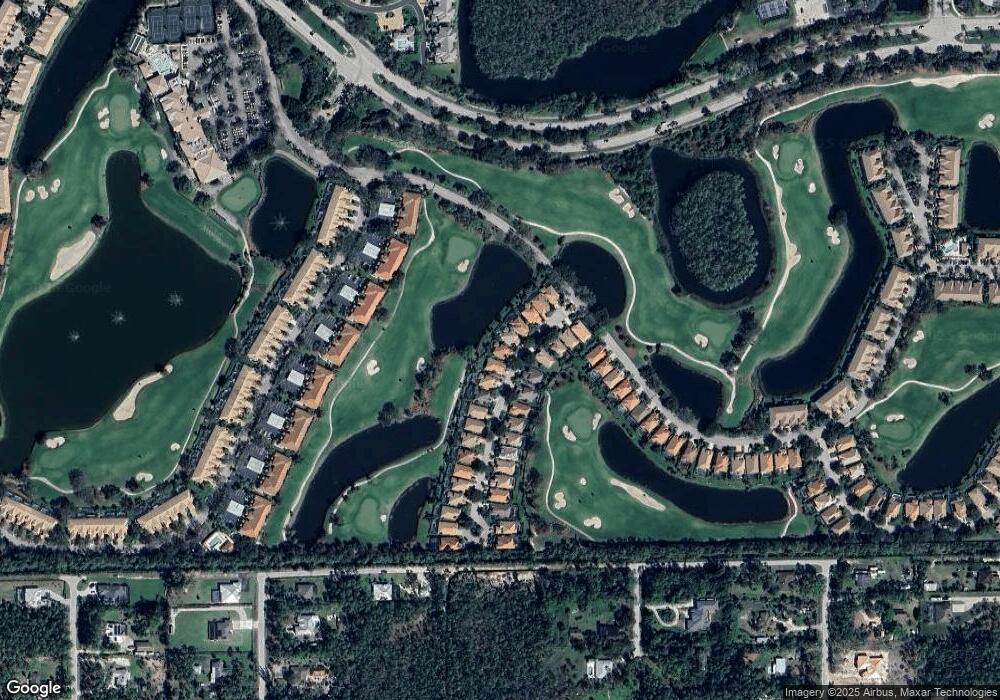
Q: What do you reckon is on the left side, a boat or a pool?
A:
pool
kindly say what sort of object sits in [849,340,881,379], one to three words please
building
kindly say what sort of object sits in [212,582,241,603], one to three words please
house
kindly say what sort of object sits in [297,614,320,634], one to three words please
shed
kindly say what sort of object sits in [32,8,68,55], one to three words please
building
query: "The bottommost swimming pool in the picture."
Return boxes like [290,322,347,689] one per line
[202,532,232,552]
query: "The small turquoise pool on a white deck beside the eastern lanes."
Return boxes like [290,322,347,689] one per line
[944,235,969,257]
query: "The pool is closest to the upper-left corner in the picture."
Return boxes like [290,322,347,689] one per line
[146,45,182,76]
